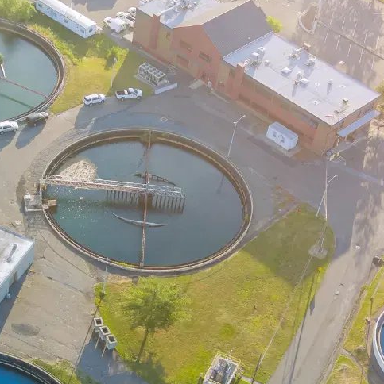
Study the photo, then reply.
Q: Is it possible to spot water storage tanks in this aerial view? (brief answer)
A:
Yes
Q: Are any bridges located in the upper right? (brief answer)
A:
No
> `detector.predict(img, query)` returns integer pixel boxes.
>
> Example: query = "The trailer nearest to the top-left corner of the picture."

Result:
[23,0,98,36]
